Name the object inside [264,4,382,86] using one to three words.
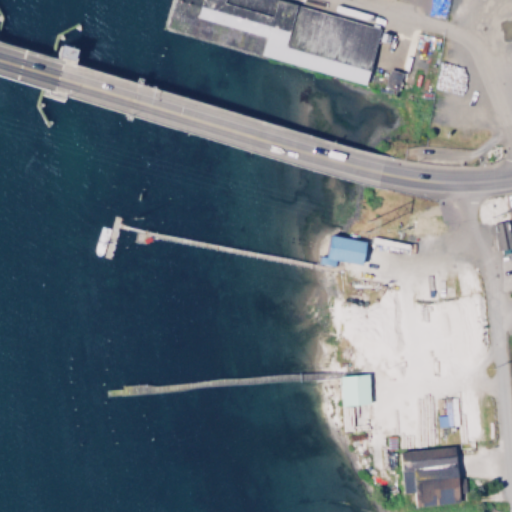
building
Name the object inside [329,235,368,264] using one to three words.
building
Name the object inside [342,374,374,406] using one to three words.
shed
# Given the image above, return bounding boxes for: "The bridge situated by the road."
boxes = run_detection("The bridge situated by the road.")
[0,42,404,192]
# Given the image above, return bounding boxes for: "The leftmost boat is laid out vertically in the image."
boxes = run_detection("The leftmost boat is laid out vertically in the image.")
[98,226,112,256]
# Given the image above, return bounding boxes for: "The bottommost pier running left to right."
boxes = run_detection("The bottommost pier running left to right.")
[108,374,345,397]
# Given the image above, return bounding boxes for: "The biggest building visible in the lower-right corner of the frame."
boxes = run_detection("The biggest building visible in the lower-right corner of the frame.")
[404,448,462,508]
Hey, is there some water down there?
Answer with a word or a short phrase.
Yes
